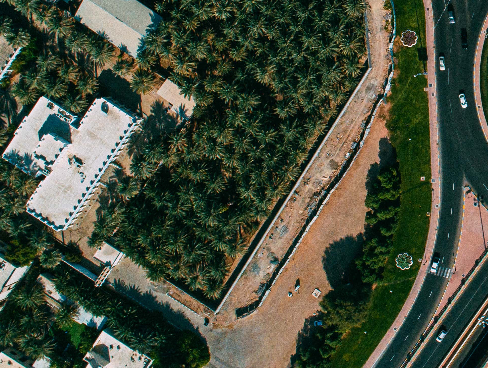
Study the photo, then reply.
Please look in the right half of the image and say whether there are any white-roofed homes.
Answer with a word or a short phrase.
No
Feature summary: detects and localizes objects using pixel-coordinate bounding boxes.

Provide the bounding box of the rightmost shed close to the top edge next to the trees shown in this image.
[77,0,169,56]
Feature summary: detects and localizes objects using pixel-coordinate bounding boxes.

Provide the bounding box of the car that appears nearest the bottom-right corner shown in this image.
[435,329,449,345]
